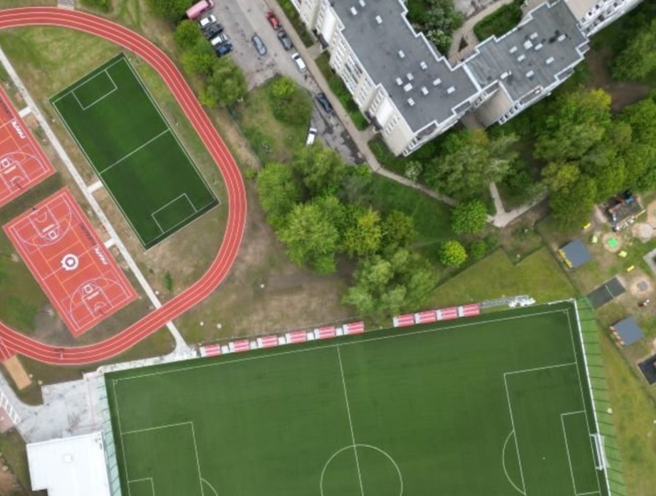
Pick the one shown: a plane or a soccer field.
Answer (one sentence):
I can see a soccer field in this picture.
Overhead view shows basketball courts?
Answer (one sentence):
Yes, there's a basketball court down there.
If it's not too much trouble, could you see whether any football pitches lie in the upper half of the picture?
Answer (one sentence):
Yes, you'll find a football pitch in the upper half of the picture.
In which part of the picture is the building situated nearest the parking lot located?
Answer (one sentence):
The building situated nearest the parking lot appears toward the top of the photo.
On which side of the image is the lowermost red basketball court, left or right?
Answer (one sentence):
You can find the lowermost red basketball court on the left side of the picture.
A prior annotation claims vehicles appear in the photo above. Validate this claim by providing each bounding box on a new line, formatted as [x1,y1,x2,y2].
[251,35,266,55]
[210,32,229,45]
[276,30,292,51]
[203,22,224,37]
[305,125,317,147]
[315,92,332,113]
[198,14,217,27]
[185,0,212,19]
[265,12,280,30]
[217,42,234,55]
